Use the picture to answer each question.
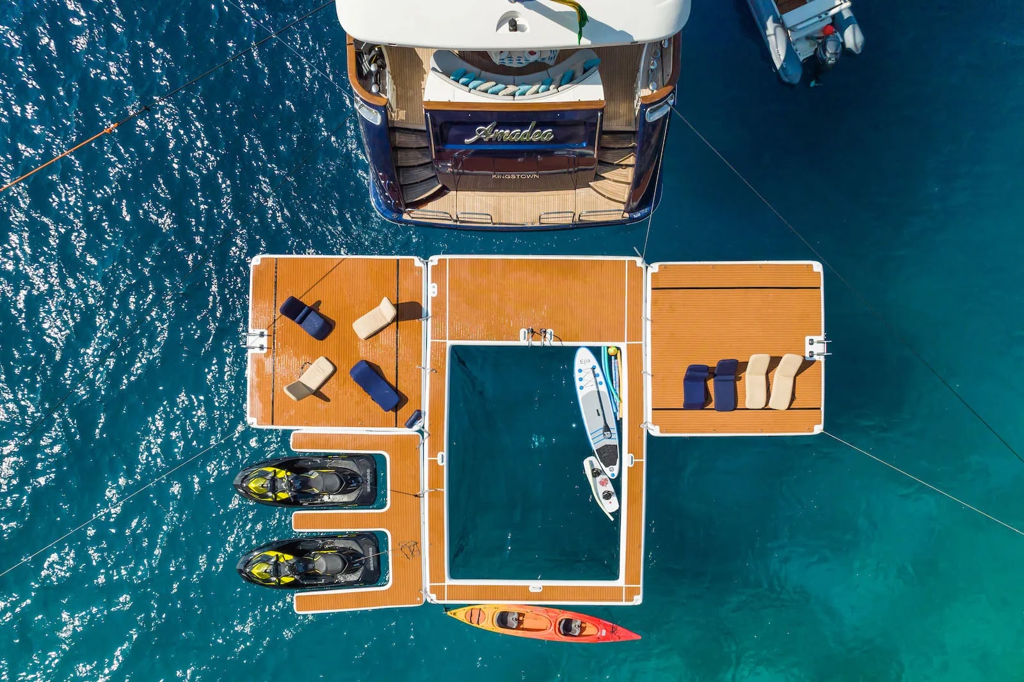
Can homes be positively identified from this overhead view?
No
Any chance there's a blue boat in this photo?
Yes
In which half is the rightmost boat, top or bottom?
top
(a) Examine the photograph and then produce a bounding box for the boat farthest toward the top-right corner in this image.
[749,0,868,88]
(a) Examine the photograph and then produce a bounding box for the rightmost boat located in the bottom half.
[447,602,642,643]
